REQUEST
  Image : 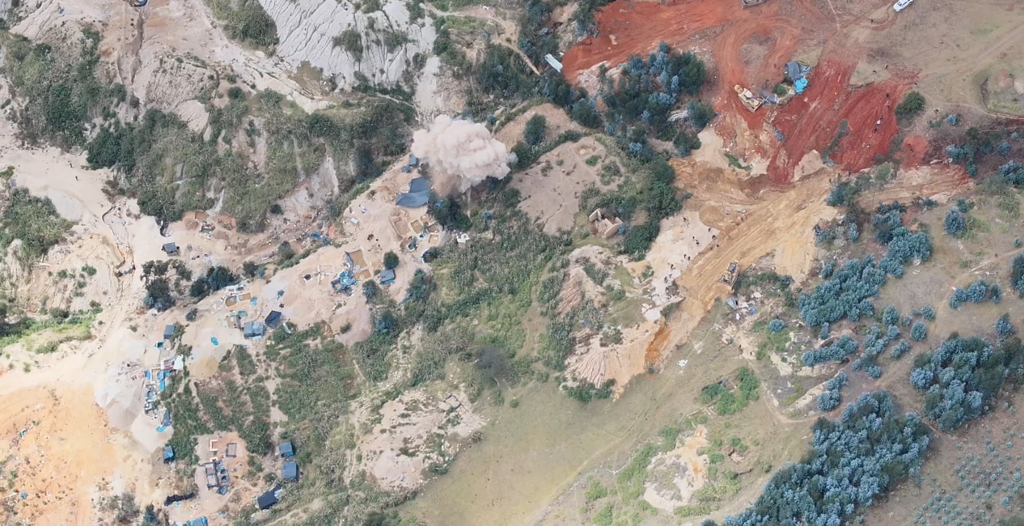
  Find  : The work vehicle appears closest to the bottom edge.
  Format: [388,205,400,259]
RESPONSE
[717,255,742,281]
